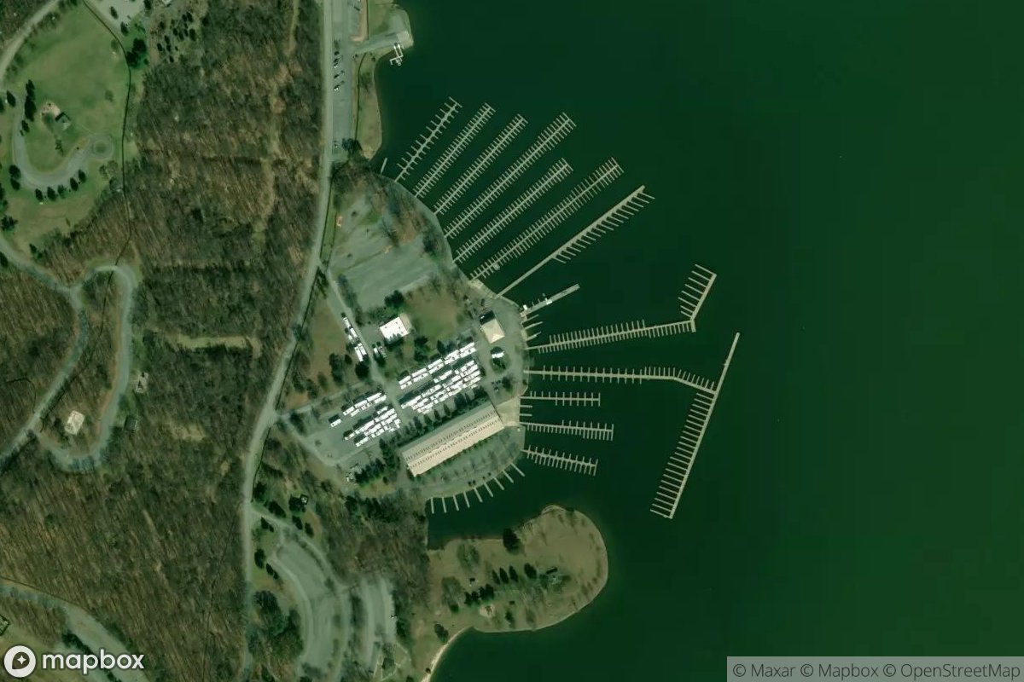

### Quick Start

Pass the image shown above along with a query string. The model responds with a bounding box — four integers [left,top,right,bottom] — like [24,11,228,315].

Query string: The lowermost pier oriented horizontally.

[521,445,598,476]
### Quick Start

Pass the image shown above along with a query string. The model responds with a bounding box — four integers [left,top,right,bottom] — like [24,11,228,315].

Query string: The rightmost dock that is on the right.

[650,333,739,518]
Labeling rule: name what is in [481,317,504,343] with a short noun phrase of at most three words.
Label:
building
